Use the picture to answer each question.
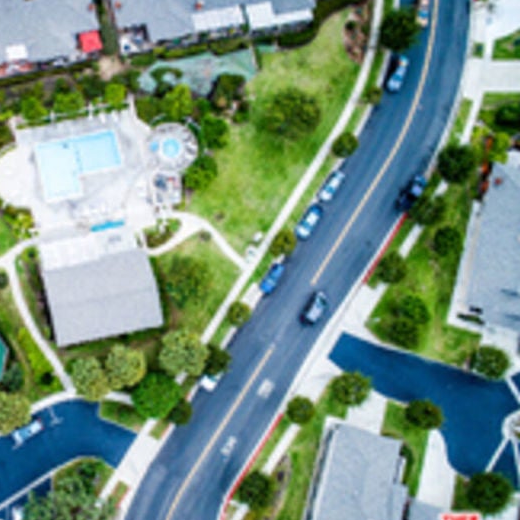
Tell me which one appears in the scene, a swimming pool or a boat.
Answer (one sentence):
I can see a swimming pool in this picture.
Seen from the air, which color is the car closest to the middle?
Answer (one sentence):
In this view, the car closest to the middle is blue.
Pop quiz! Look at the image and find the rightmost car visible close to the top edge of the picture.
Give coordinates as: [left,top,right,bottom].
[415,0,431,24]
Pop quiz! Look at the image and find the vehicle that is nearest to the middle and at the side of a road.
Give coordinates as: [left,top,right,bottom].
[260,262,285,294]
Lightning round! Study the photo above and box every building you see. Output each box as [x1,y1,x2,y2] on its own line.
[0,0,103,64]
[39,226,164,346]
[107,0,317,41]
[311,425,408,520]
[467,150,520,334]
